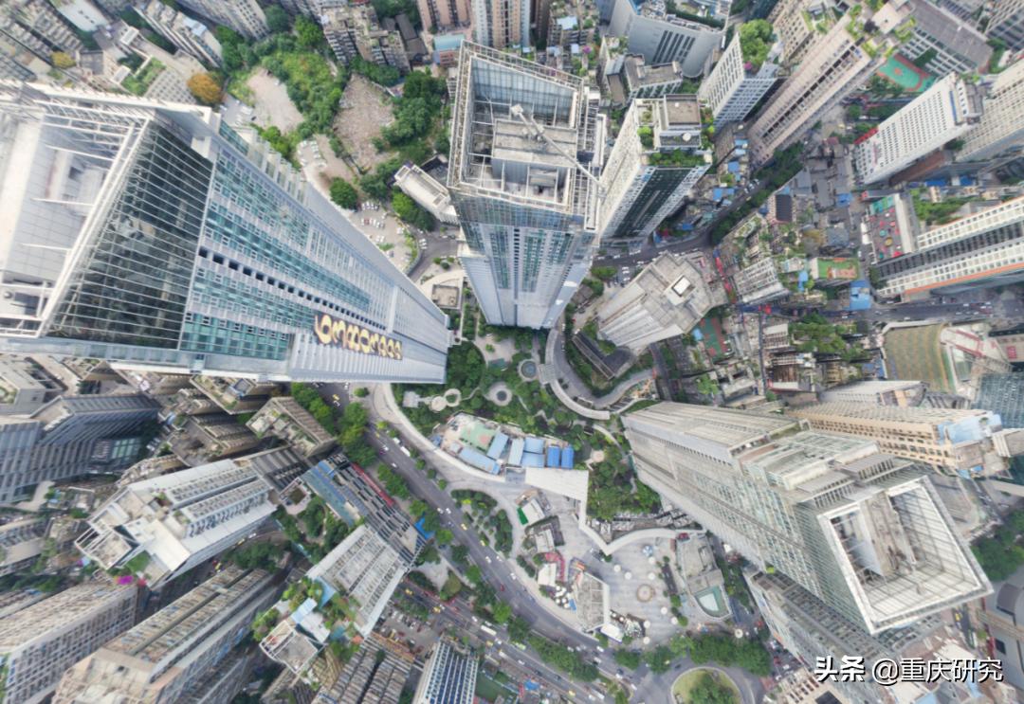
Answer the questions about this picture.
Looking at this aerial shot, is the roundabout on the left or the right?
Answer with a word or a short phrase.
right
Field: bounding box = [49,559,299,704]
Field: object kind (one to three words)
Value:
building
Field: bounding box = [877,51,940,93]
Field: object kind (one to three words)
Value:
basketball court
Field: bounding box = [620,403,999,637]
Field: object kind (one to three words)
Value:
building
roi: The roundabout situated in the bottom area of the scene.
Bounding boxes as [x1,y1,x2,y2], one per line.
[648,639,769,704]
